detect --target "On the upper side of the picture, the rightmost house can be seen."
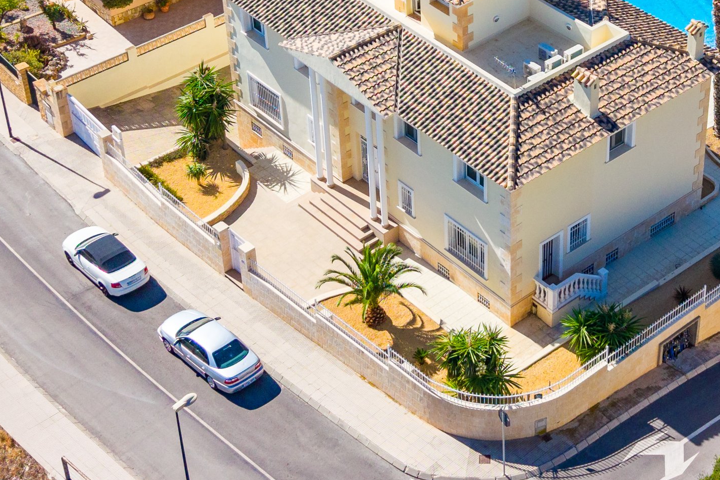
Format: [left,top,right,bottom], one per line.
[222,0,720,327]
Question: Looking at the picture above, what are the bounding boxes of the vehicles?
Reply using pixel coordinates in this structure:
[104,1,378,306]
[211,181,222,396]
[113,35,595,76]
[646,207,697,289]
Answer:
[155,305,259,391]
[58,222,149,297]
